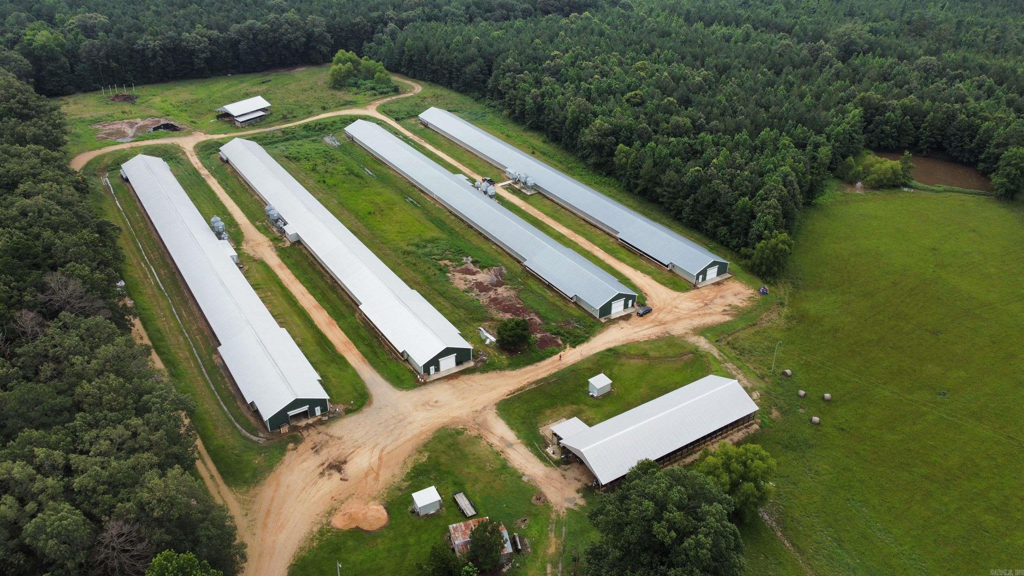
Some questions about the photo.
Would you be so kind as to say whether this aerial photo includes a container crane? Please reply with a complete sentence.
No, there appears to be no container crane in this shot.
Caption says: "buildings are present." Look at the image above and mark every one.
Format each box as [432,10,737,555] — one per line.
[411,485,440,517]
[344,119,638,323]
[220,138,475,381]
[550,375,759,495]
[450,517,507,568]
[588,373,612,397]
[220,99,275,125]
[121,154,330,430]
[419,107,732,288]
